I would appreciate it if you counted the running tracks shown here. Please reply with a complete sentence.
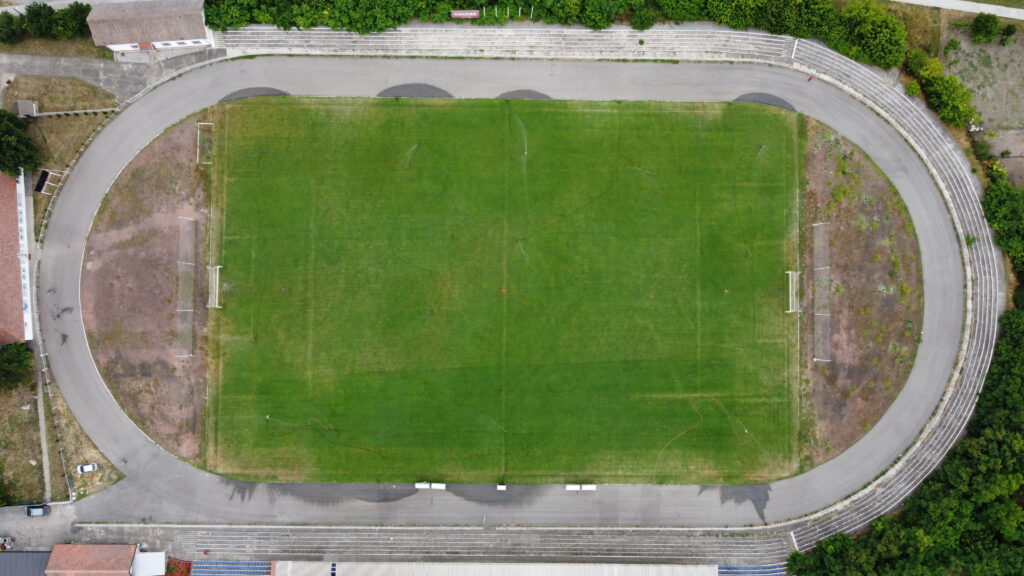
In total, there is 1 running track in the scene.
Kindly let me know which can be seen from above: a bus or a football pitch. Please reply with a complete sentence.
I can see a football pitch in this picture.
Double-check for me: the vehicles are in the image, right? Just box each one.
[0,538,15,550]
[77,462,99,474]
[26,505,51,517]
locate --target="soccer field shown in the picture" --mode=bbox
[205,95,809,485]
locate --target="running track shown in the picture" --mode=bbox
[39,58,964,526]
